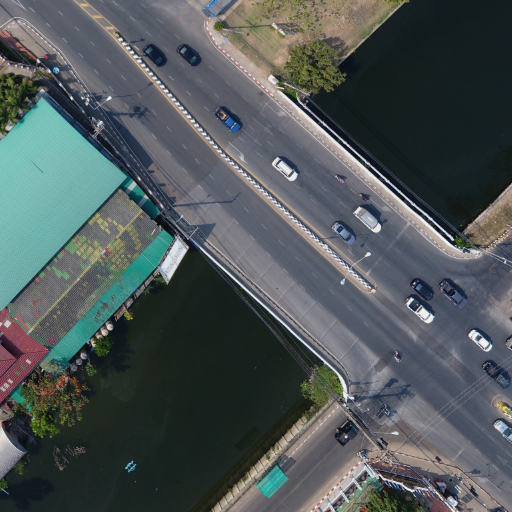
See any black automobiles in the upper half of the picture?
Yes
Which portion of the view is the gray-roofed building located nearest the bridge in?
left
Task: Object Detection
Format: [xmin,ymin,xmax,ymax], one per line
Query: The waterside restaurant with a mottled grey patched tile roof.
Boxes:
[9,186,174,371]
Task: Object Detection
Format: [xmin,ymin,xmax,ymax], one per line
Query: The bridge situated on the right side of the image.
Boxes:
[184,90,488,392]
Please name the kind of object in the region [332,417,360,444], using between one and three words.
truck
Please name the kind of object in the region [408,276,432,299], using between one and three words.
car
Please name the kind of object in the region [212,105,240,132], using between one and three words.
truck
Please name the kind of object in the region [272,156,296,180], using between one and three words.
car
